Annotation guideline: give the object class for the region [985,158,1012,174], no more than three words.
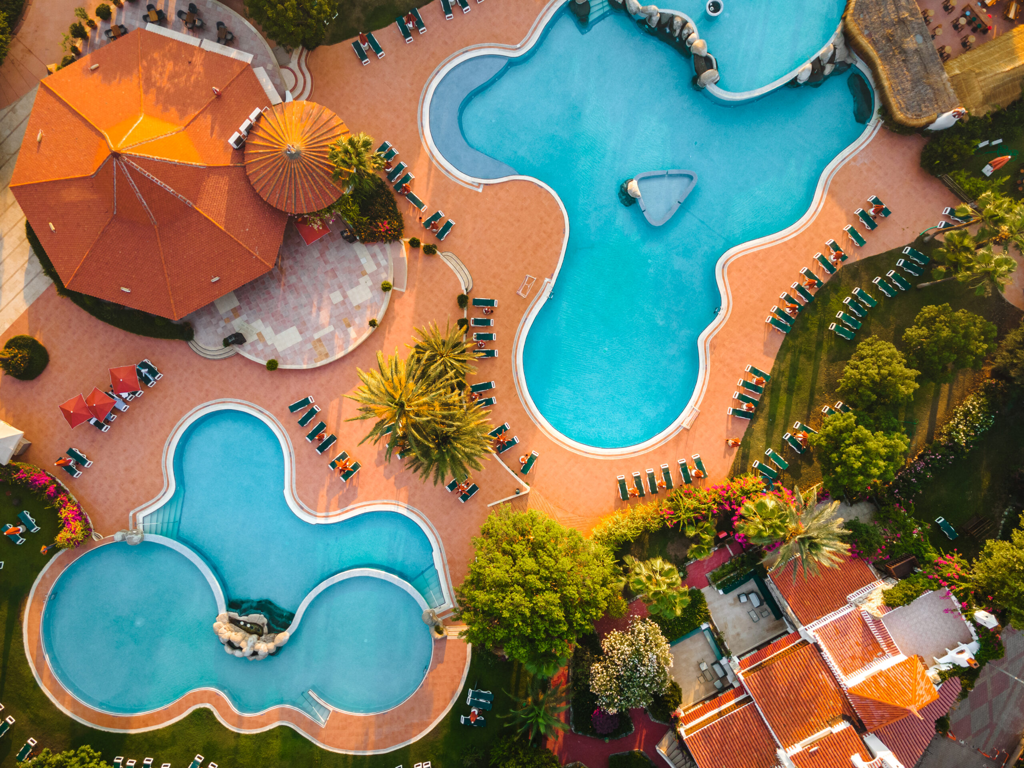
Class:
umbrella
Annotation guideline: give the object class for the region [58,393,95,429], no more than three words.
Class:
umbrella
